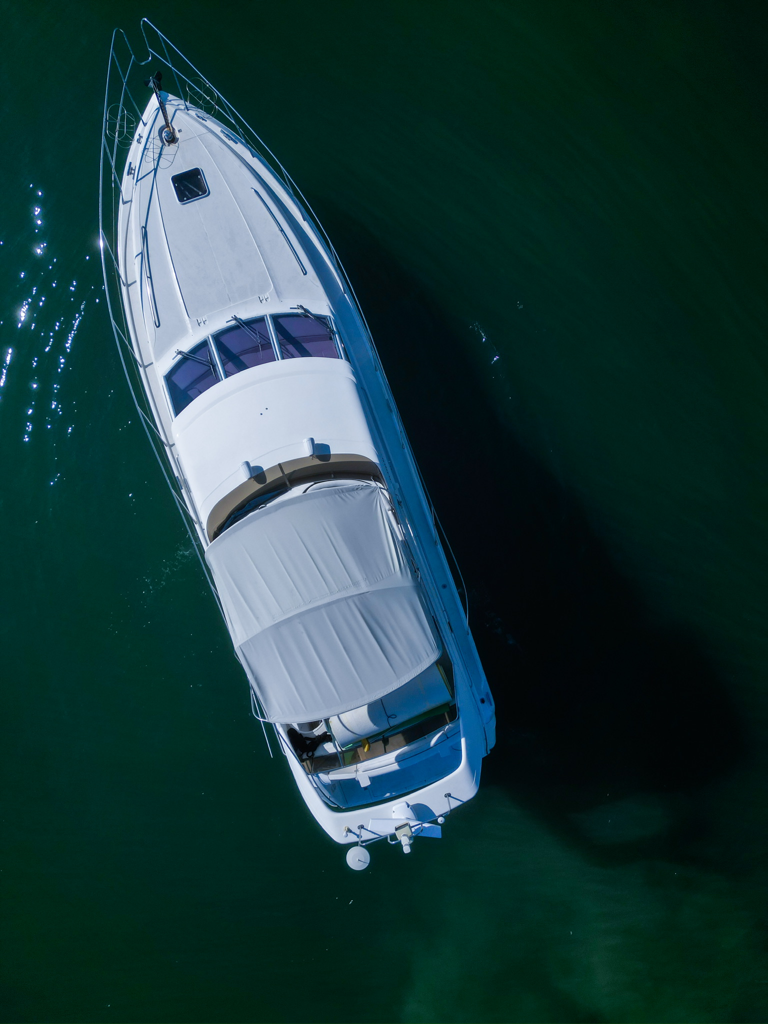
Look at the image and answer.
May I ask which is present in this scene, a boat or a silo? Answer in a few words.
boat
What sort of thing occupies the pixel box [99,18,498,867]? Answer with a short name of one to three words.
boat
